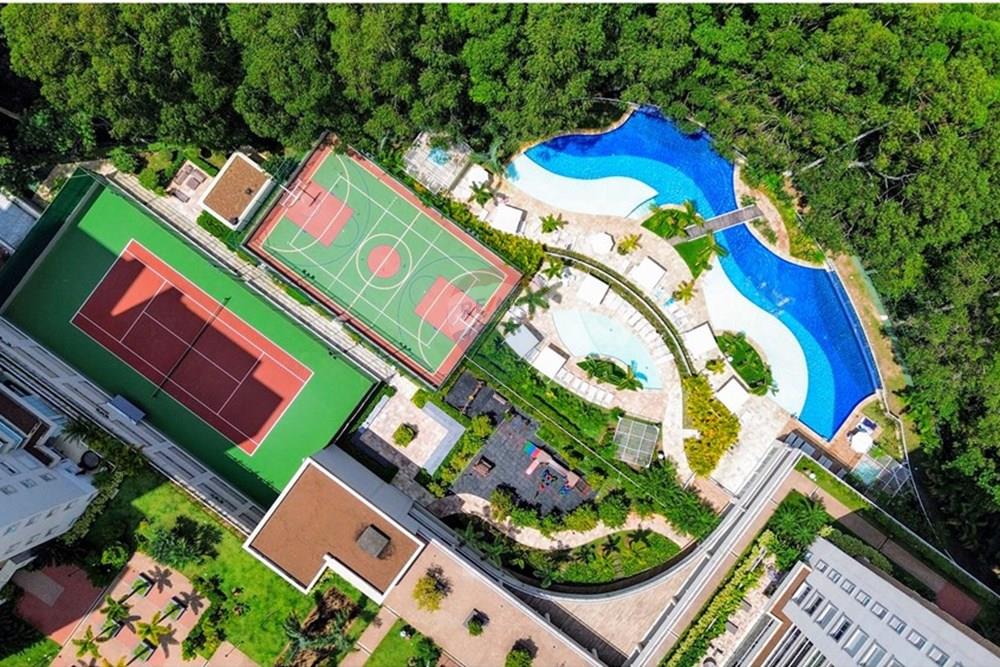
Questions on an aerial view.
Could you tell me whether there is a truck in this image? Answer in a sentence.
No, no truck is visible in the view.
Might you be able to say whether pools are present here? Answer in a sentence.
Yes, the photo shows a pool.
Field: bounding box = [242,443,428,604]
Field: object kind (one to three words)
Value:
building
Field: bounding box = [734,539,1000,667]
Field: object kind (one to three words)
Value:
building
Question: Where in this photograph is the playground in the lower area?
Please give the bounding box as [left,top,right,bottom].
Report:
[446,370,598,516]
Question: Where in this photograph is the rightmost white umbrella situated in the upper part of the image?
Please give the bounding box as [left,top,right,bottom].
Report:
[591,232,610,253]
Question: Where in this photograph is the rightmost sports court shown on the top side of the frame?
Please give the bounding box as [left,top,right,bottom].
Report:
[254,135,520,383]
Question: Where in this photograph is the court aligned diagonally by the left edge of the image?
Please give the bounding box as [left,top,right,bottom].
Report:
[0,184,378,511]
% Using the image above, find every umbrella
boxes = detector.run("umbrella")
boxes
[591,232,610,253]
[850,432,870,450]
